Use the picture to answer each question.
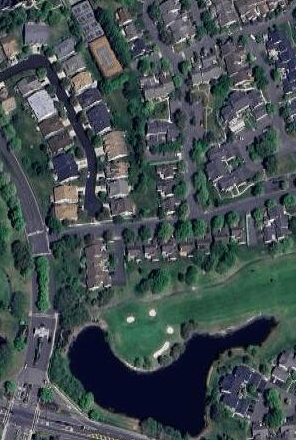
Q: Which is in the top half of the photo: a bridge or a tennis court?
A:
tennis court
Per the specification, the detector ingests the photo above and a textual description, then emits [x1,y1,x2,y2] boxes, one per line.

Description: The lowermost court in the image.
[89,35,122,77]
